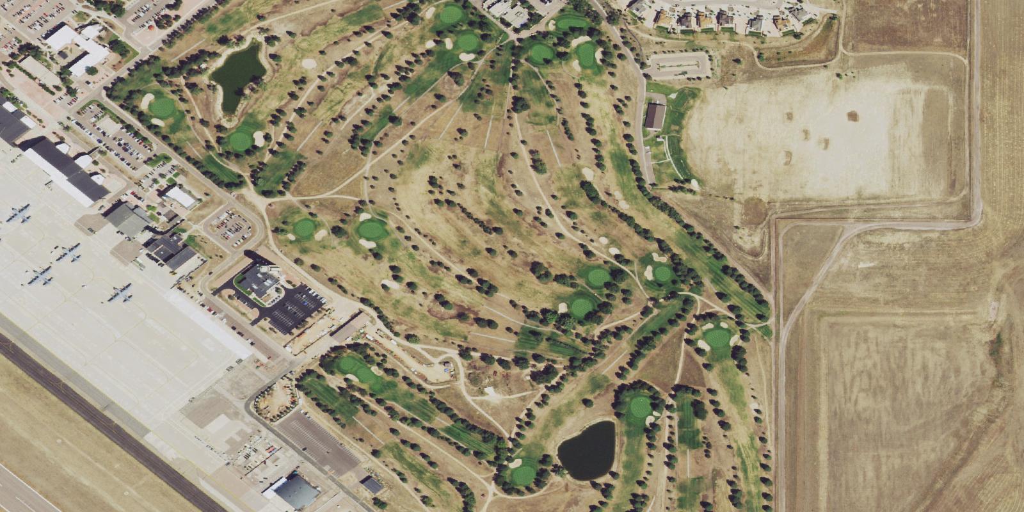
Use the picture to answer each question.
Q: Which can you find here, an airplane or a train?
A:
airplane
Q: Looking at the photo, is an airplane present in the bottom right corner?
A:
No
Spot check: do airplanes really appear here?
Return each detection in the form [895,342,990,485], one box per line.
[29,267,55,287]
[109,285,135,305]
[8,205,34,225]
[58,245,84,265]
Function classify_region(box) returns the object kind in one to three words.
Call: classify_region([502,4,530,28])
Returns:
building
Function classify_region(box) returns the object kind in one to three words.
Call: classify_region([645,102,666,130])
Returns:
building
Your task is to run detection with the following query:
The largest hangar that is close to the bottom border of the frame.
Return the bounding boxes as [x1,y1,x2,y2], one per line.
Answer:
[272,474,320,511]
